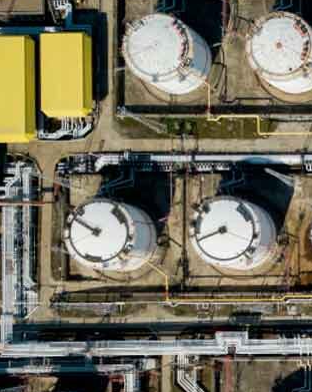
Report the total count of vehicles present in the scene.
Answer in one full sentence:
The count of vehicles is 0.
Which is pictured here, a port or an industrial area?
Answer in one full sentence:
This looks like an industrial area.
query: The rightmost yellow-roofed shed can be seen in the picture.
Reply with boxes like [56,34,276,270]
[40,29,95,116]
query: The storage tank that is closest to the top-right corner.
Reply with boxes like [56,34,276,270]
[246,10,312,97]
